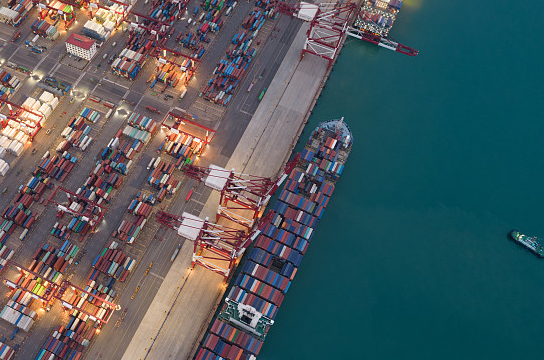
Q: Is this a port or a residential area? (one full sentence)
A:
What you see here is a port.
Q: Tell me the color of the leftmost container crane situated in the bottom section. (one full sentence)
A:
In this view, the leftmost container crane situated in the bottom section is red.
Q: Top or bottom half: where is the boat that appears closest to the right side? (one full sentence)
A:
You can find the boat that appears closest to the right side in the bottom half.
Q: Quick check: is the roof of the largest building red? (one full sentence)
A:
Yes, the roof of the largest building is indeed red.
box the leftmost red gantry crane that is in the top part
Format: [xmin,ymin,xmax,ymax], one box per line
[0,98,48,142]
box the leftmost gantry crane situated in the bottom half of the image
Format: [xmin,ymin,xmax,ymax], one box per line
[0,259,59,309]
